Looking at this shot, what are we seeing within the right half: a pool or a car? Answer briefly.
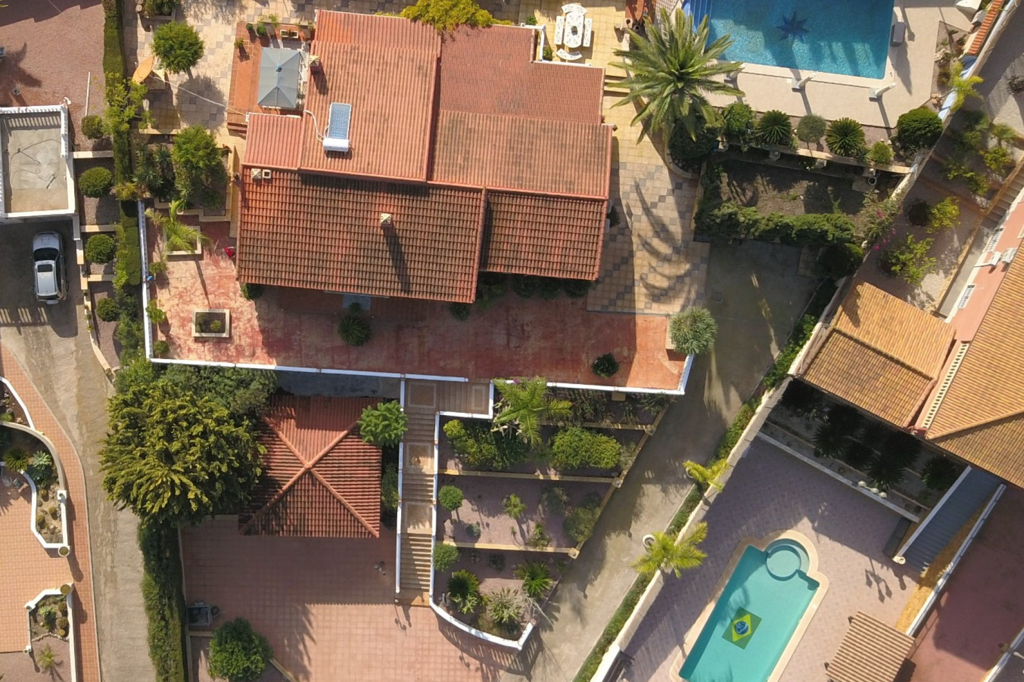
pool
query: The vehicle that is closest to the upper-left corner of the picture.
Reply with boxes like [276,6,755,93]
[31,235,70,306]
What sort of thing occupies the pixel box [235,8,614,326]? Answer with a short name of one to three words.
house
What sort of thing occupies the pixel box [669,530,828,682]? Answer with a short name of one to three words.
swimming pool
